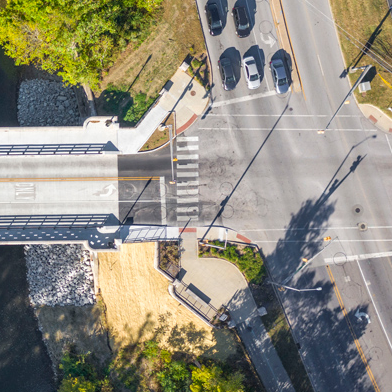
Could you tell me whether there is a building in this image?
No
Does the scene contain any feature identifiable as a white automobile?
Yes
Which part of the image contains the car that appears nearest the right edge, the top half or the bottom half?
top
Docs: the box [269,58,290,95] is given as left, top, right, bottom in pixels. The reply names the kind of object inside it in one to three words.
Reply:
car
